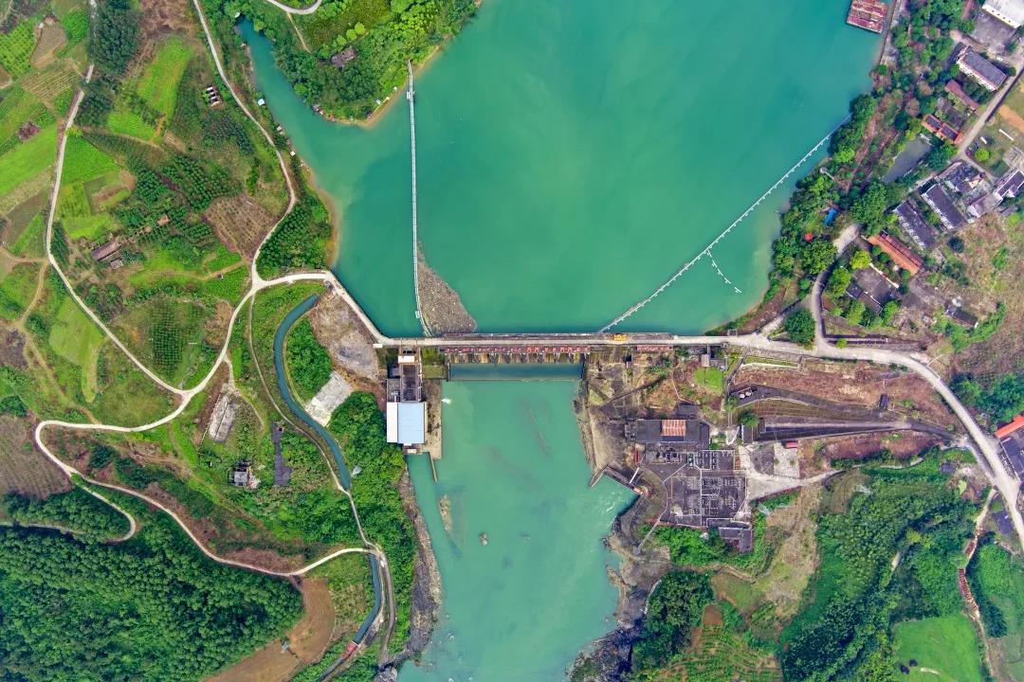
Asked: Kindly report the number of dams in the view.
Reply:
1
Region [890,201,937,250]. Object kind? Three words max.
house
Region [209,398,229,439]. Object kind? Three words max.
barn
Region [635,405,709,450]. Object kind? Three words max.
building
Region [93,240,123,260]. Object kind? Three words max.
shed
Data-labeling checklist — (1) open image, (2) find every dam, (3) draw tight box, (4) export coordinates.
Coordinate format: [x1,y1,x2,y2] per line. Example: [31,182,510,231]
[324,272,675,382]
